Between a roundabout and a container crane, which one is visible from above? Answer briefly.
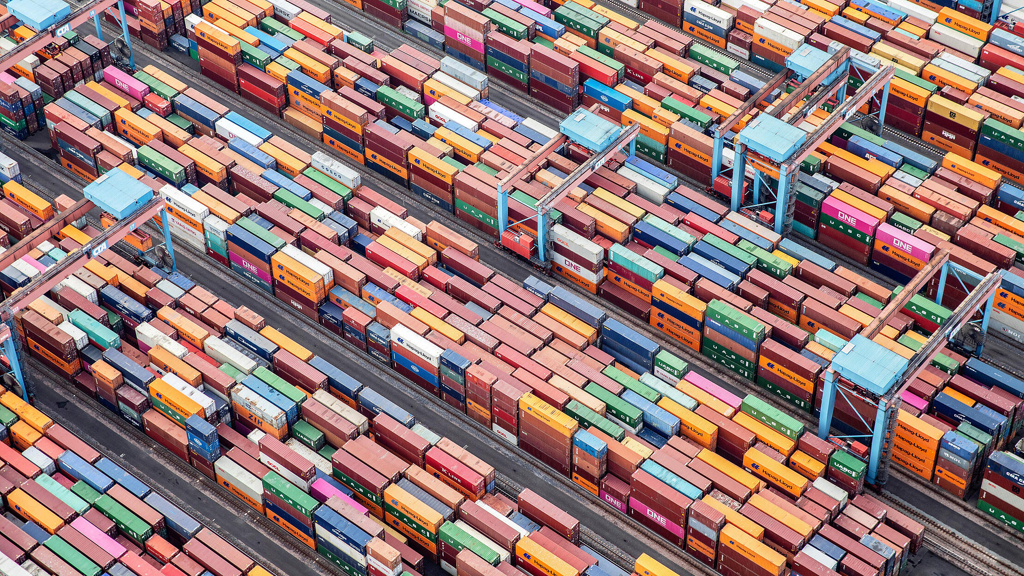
container crane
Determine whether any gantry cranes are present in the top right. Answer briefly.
Yes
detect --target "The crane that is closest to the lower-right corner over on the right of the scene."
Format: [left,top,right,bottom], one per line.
[818,244,1006,491]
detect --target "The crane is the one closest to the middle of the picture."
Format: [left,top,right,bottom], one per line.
[494,97,643,275]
